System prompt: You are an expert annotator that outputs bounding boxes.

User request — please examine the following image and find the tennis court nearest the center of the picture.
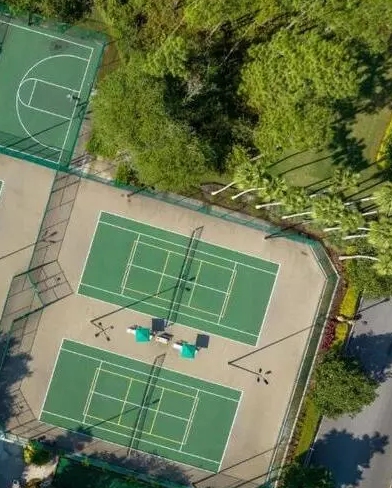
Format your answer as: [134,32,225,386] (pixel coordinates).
[78,212,280,347]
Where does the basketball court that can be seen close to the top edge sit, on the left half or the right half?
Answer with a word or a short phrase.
left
